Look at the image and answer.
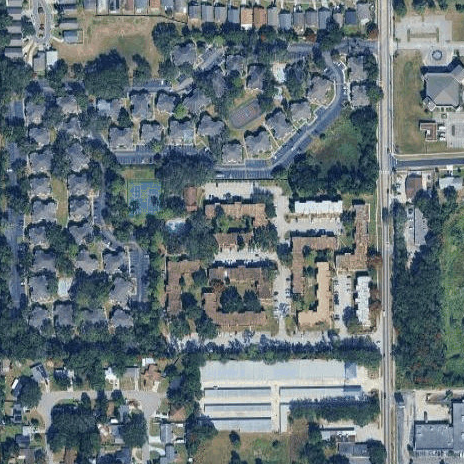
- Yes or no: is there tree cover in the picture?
Yes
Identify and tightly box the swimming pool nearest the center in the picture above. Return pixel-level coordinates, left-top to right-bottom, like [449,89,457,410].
[166,217,185,233]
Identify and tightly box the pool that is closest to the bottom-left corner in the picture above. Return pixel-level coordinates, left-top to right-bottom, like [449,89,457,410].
[57,277,71,295]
